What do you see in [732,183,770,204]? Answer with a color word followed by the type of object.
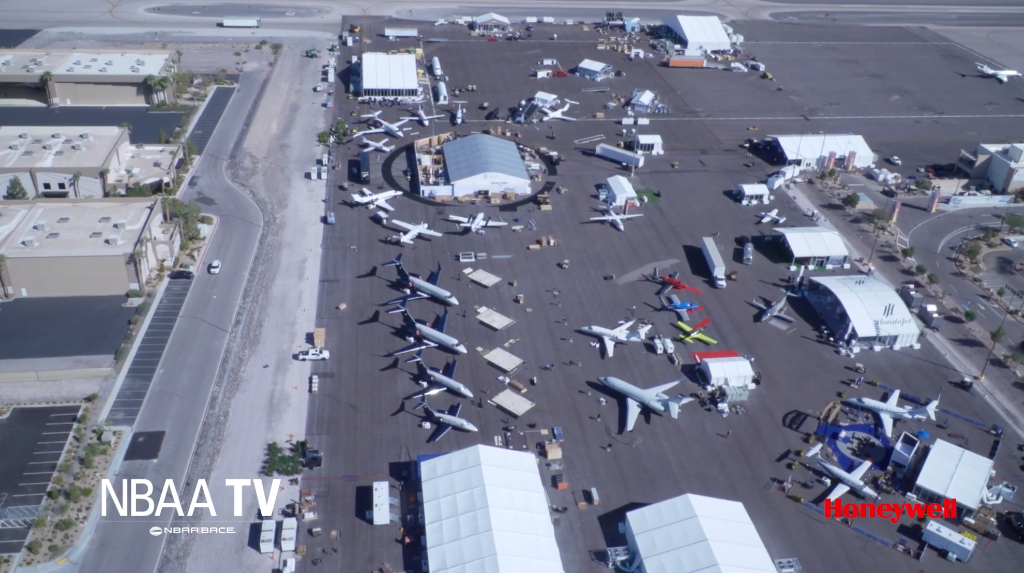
white tent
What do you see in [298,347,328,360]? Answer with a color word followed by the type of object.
white vehicle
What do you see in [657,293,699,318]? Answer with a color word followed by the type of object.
blue airplane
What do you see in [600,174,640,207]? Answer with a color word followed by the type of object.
white tent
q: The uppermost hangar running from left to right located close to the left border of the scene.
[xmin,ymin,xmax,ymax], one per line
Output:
[0,48,184,106]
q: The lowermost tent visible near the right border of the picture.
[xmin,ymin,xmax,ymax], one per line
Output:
[905,439,996,528]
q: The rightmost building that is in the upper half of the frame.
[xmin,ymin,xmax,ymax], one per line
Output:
[921,140,1024,197]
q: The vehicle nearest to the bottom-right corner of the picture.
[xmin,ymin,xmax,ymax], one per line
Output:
[1001,507,1024,531]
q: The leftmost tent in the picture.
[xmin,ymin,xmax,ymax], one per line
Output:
[362,54,418,97]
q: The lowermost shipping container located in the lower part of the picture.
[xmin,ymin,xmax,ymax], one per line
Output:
[923,518,977,561]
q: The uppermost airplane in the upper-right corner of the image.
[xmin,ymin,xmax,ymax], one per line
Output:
[974,60,1024,81]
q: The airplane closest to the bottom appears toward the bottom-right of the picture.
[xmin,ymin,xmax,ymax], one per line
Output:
[800,435,883,502]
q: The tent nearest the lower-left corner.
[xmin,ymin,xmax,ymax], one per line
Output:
[416,443,569,573]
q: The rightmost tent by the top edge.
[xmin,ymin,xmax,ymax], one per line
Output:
[660,15,730,51]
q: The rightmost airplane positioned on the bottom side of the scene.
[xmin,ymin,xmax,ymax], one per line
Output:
[844,392,952,439]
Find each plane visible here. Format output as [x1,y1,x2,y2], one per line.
[753,284,804,323]
[398,346,473,400]
[435,18,453,26]
[348,188,402,211]
[597,379,709,437]
[410,389,477,437]
[650,267,691,294]
[974,60,1024,81]
[657,293,699,318]
[449,214,508,233]
[372,252,458,306]
[399,97,445,127]
[800,435,883,502]
[440,98,478,126]
[376,296,466,355]
[590,197,643,232]
[348,108,407,139]
[677,319,719,342]
[393,219,445,242]
[542,96,580,121]
[759,198,799,218]
[357,132,388,154]
[578,318,659,360]
[844,392,952,439]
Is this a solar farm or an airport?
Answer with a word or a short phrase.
airport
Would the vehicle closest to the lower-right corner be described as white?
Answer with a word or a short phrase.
No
